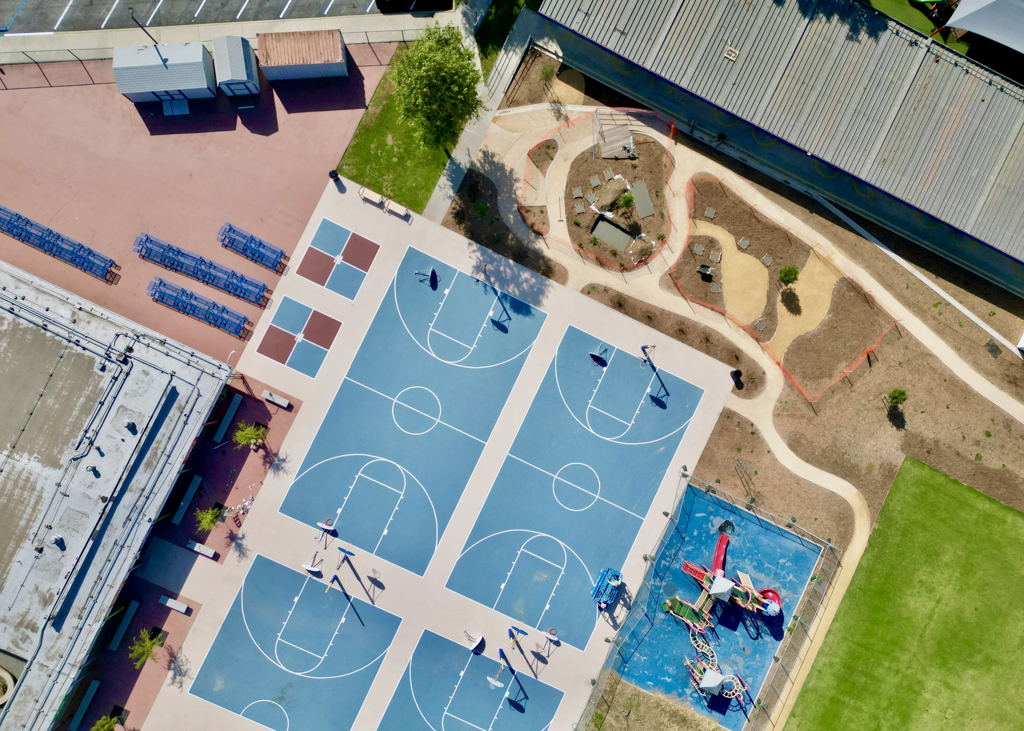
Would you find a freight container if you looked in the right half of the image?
No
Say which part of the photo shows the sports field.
bottom right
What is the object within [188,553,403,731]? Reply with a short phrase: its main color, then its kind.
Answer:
blue basketball court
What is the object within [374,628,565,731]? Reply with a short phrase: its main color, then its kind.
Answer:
blue basketball court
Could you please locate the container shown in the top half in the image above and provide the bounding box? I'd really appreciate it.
[257,28,349,80]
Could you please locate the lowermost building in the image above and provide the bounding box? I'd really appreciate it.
[0,256,242,731]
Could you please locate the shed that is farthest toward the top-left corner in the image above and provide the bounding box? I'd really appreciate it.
[111,43,217,118]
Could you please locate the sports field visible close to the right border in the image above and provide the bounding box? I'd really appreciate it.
[784,456,1024,731]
